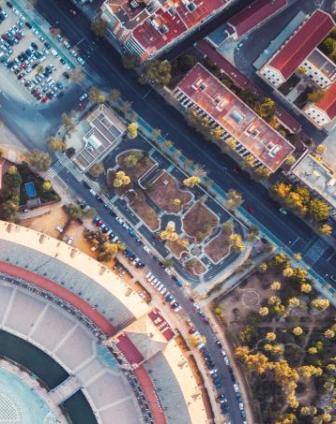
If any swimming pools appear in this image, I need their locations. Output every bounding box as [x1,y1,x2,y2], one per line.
[25,182,37,198]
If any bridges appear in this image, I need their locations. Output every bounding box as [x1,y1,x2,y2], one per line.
[47,373,83,408]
